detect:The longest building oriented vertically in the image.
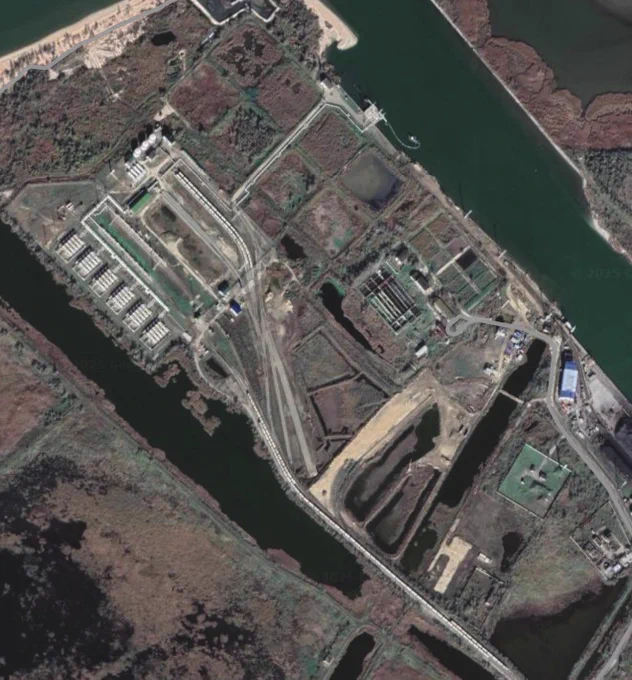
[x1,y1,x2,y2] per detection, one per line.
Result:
[558,361,577,401]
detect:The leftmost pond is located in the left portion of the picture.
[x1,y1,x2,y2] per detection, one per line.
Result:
[0,454,129,680]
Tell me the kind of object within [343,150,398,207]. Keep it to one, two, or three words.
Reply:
pond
